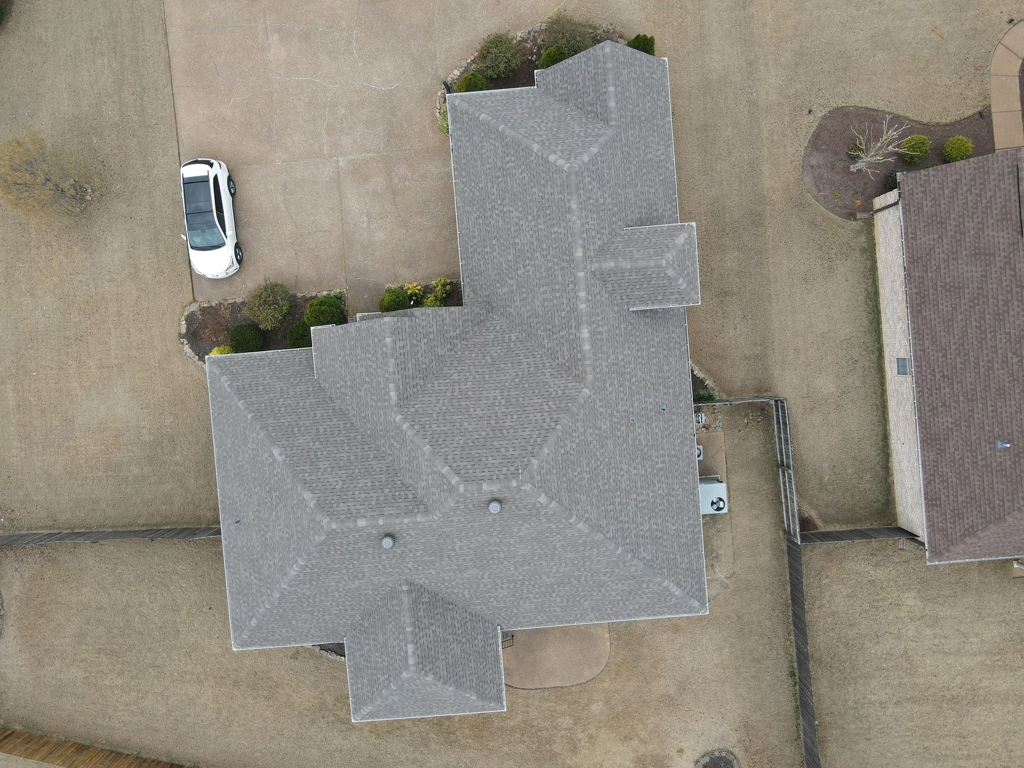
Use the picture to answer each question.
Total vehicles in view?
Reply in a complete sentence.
The count comes to 1 vehicle.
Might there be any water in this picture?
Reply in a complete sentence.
No, the picture contains no water.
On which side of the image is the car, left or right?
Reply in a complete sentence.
The car appears in the left half of the scene.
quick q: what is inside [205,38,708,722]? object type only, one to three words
house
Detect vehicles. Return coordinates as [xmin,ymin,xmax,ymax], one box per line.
[177,158,242,279]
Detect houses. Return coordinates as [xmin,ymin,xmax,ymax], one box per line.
[205,38,708,722]
[869,149,1024,579]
